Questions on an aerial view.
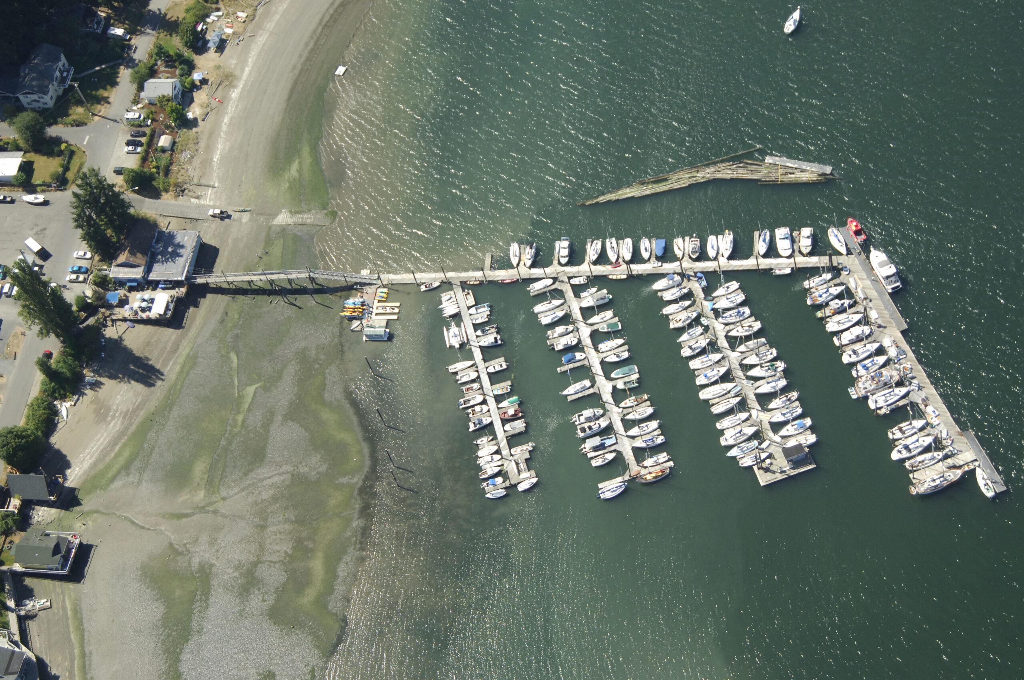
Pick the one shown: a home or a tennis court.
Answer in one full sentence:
Visible in the photo is a home.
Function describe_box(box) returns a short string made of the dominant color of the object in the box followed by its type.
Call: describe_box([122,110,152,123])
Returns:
white vehicle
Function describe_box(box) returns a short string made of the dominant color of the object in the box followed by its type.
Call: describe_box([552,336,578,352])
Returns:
white boat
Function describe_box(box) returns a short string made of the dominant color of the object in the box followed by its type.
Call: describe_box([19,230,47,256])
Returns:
white truck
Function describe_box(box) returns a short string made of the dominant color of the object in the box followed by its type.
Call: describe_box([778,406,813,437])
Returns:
white boat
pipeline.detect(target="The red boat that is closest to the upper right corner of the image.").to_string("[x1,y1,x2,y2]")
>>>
[848,215,868,243]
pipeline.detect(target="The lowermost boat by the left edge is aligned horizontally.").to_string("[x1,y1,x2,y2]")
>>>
[19,194,48,208]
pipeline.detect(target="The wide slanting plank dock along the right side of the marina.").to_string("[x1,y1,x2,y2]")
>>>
[810,255,976,484]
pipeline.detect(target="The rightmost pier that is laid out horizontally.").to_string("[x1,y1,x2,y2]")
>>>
[380,231,817,285]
